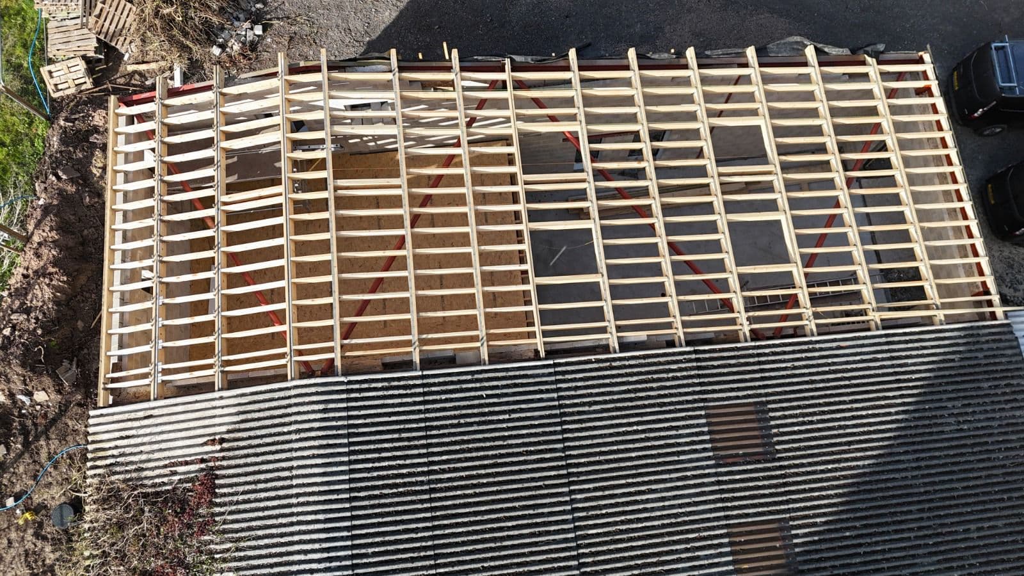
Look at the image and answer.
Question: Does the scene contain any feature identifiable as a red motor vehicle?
No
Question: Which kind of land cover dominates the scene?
buildings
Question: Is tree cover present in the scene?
No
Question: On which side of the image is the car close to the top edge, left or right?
right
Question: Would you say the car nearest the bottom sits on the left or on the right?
right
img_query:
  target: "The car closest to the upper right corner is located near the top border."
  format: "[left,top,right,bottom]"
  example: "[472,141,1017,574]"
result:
[935,25,1024,136]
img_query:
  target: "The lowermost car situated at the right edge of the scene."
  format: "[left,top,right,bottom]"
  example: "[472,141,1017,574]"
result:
[969,154,1024,246]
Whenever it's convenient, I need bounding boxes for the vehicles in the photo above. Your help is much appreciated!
[935,25,1024,136]
[969,154,1024,246]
